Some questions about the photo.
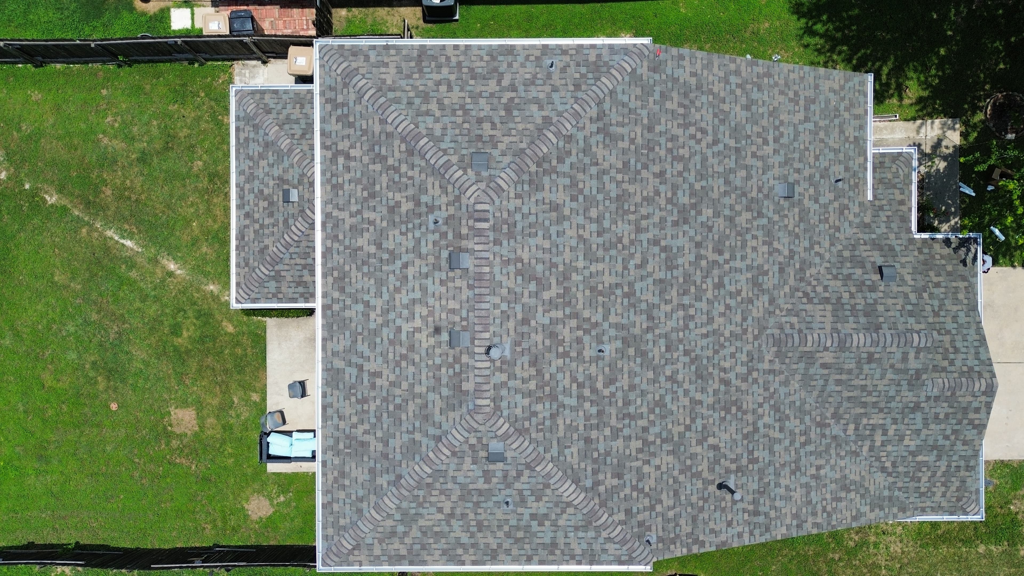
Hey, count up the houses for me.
one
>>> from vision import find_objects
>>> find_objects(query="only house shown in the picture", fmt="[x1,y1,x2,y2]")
[229,38,998,573]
